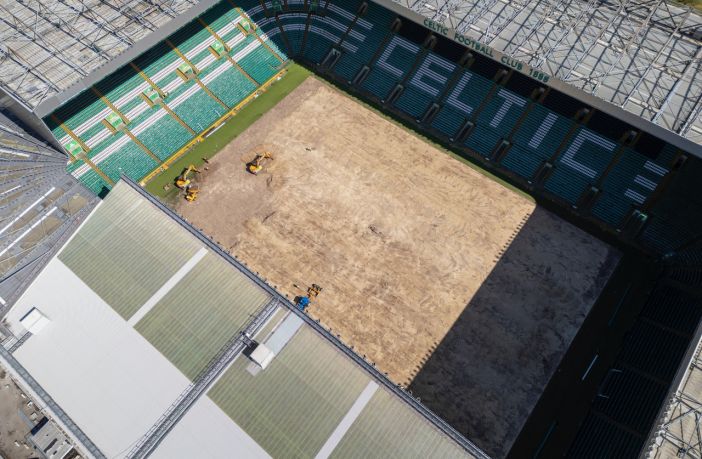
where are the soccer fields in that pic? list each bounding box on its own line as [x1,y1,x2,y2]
[143,67,651,459]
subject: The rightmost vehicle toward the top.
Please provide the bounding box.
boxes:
[250,152,274,173]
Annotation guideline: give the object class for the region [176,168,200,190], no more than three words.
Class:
work vehicle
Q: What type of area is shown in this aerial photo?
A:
sports ground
